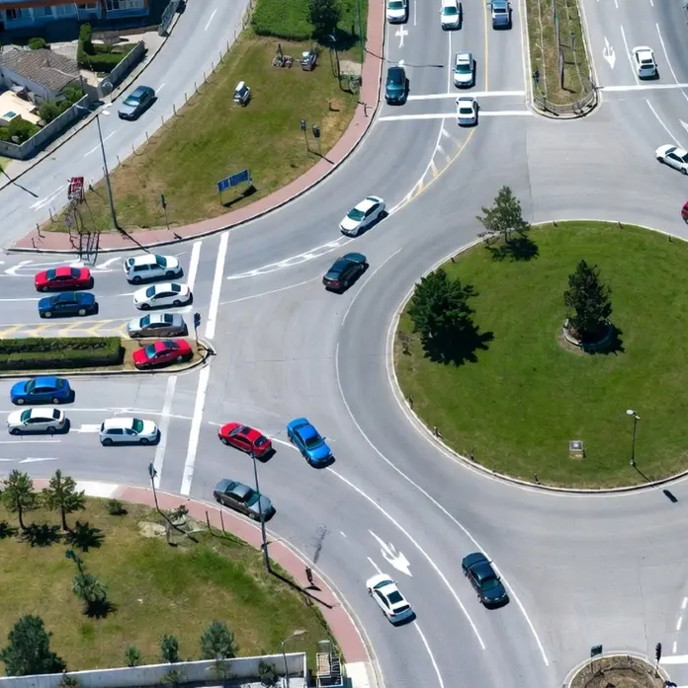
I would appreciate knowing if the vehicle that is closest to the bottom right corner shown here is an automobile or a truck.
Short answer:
automobile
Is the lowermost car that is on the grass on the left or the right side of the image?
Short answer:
left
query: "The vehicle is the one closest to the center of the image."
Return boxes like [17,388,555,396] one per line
[321,252,368,291]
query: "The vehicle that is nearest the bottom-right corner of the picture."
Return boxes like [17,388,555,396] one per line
[459,552,510,605]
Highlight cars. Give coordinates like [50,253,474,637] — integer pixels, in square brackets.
[12,380,72,407]
[284,418,335,466]
[9,410,68,437]
[133,284,192,310]
[38,293,96,320]
[383,63,407,102]
[365,577,416,624]
[438,0,460,25]
[338,195,389,235]
[459,552,510,605]
[36,268,93,294]
[125,254,182,283]
[656,148,688,176]
[127,314,188,341]
[217,424,275,460]
[212,477,275,519]
[321,252,368,291]
[101,419,158,447]
[489,0,510,25]
[117,85,158,119]
[452,46,475,85]
[631,46,657,80]
[385,0,407,17]
[455,96,477,127]
[133,342,192,371]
